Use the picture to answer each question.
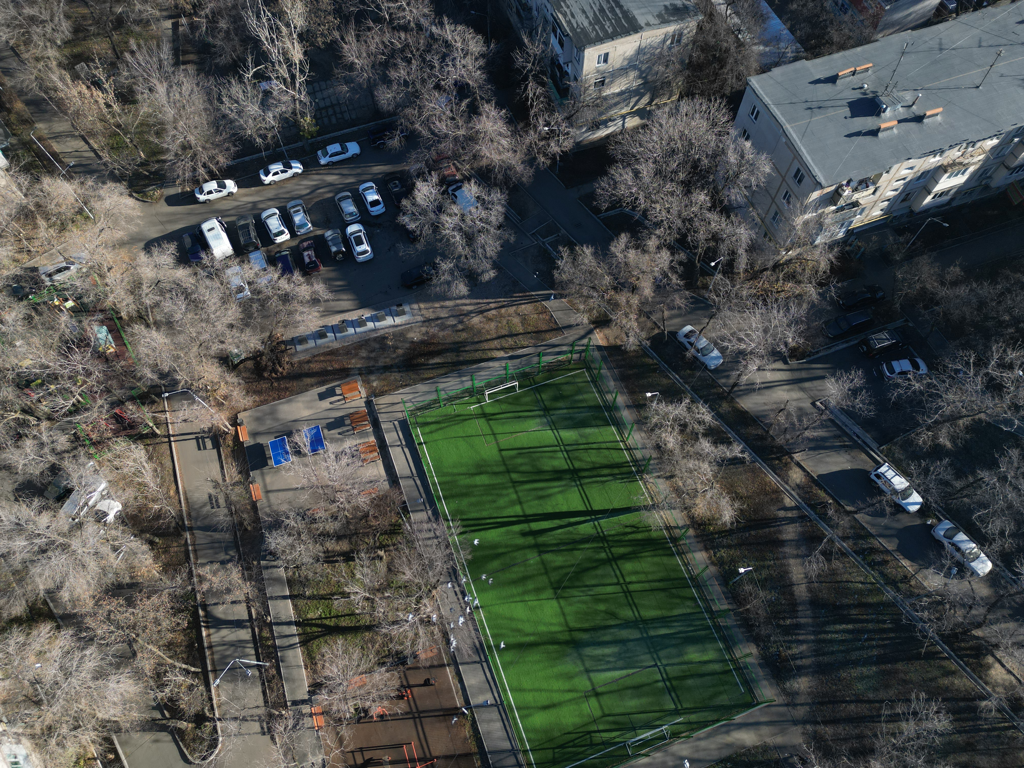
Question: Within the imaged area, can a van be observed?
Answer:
Yes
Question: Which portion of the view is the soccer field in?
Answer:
bottom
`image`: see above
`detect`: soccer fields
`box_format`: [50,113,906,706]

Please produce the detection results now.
[411,360,754,768]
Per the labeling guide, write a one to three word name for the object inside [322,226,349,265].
car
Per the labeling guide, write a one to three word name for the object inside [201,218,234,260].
van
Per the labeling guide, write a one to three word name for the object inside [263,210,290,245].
car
